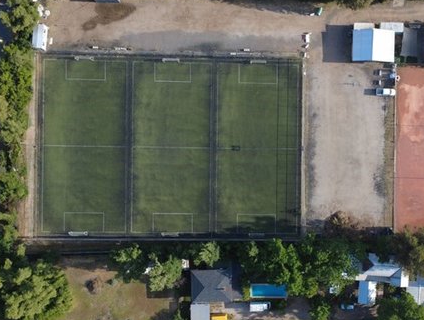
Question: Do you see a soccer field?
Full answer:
Yes, the picture does show a soccer field.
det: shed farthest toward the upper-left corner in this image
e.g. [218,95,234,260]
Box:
[32,23,53,52]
